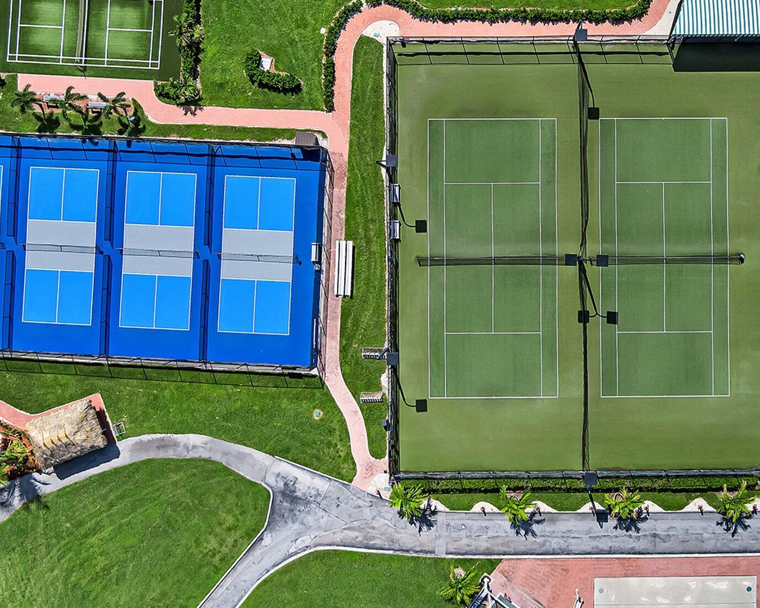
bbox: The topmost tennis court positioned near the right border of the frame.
[581,42,760,472]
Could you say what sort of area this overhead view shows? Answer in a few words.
sports ground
